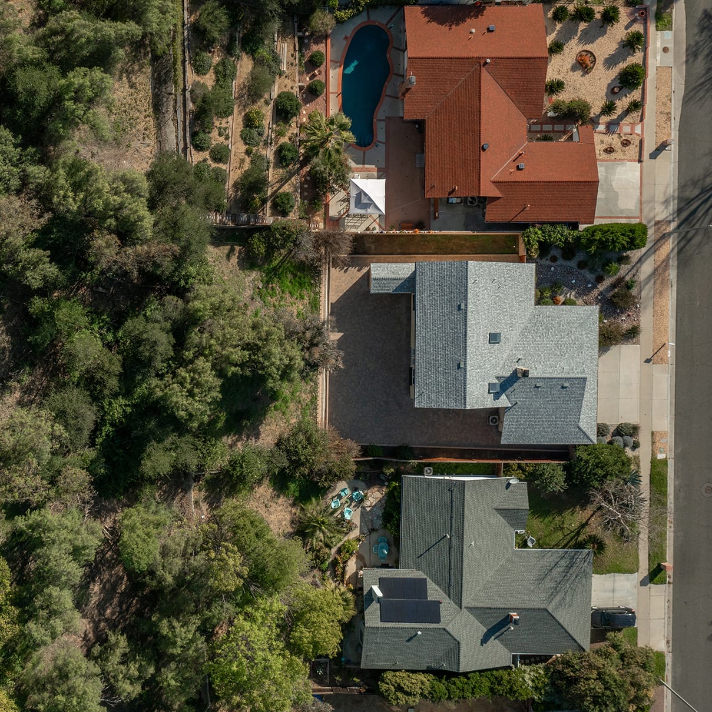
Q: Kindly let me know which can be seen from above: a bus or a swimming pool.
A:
swimming pool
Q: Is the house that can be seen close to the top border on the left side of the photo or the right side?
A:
right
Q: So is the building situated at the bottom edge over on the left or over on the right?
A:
right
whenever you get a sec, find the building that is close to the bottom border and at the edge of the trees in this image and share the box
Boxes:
[359,474,595,680]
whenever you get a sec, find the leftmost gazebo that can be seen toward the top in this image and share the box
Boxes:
[345,179,385,217]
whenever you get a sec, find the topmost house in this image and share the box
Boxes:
[400,3,603,223]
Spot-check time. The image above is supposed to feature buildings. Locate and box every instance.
[359,474,595,680]
[366,260,599,445]
[400,3,603,223]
